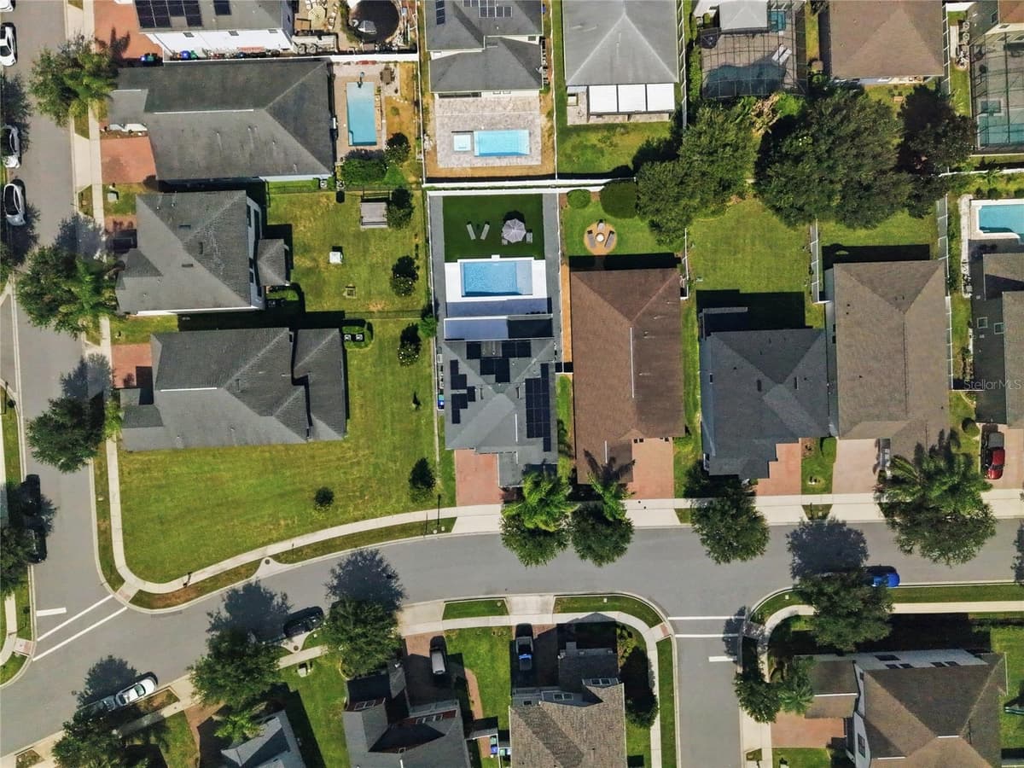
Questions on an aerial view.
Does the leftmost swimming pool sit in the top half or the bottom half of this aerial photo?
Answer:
top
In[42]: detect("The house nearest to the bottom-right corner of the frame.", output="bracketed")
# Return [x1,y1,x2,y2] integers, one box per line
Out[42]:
[797,649,1005,768]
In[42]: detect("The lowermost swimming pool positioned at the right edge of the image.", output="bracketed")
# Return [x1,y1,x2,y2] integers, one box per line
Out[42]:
[975,199,1024,239]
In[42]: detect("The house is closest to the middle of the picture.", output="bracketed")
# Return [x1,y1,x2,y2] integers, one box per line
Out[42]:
[442,312,558,487]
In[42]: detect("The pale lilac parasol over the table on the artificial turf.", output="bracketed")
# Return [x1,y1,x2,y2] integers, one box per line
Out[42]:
[502,219,526,243]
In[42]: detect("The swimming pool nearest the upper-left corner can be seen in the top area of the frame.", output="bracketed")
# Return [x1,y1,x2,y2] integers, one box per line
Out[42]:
[343,78,379,149]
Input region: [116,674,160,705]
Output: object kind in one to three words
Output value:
car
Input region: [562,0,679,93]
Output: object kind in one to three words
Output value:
house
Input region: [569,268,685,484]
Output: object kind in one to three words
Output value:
house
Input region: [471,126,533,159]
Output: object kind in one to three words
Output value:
swimming pool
